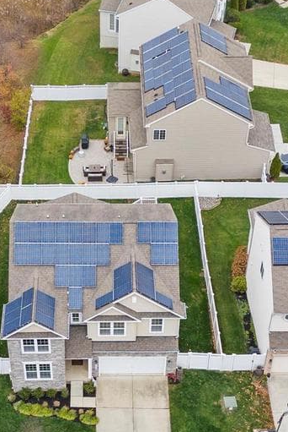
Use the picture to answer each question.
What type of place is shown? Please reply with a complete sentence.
The picture captures a residential area.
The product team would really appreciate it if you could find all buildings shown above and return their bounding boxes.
[249,195,288,374]
[107,20,277,184]
[0,184,185,390]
